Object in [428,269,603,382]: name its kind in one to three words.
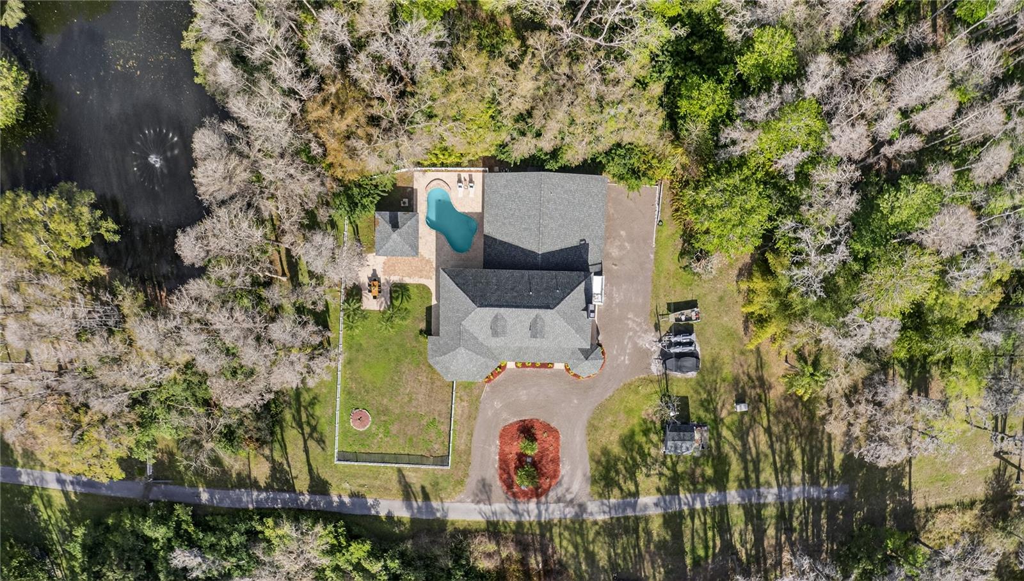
house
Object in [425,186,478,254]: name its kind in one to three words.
swimming pool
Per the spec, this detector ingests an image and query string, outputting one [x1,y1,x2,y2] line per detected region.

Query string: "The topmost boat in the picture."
[669,309,704,321]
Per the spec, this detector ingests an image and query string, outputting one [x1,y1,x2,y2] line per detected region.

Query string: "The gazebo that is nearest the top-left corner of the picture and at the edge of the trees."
[376,212,419,257]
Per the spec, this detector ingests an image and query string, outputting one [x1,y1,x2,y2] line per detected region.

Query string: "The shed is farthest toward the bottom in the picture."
[662,423,697,455]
